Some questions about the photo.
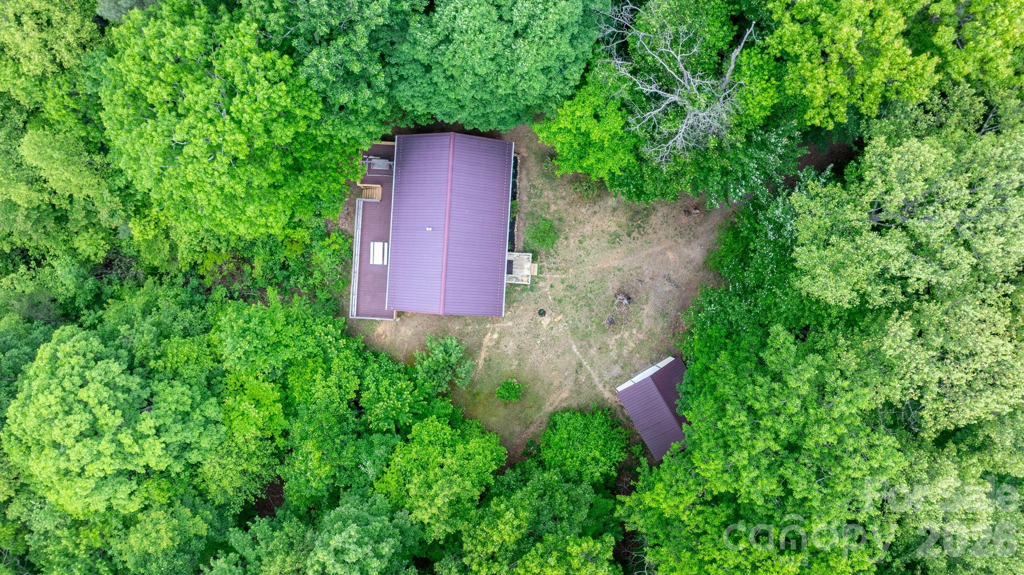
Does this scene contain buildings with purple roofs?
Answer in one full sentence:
Yes, the picture does show a building with a purple roof.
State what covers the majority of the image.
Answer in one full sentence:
What you mostly see from above here is trees.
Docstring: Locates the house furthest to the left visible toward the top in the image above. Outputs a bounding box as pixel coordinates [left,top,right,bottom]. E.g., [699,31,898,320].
[384,130,516,317]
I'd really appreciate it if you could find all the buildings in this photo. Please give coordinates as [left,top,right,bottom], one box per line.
[615,356,708,462]
[384,130,516,317]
